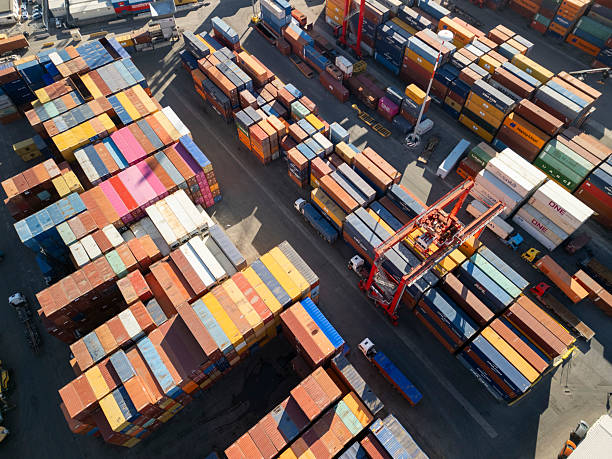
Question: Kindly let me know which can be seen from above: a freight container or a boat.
freight container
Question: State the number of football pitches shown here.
0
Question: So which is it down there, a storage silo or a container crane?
container crane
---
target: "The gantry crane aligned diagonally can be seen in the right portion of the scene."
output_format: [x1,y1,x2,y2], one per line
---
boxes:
[356,174,510,325]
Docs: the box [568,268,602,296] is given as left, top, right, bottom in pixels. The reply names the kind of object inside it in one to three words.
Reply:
shipping container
